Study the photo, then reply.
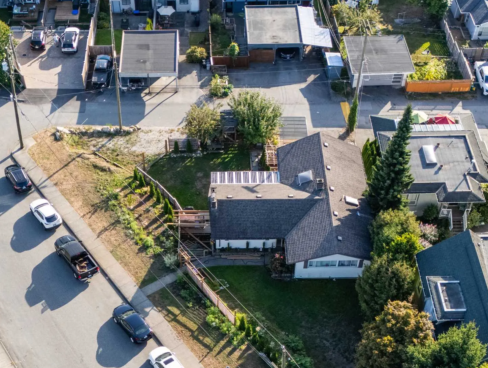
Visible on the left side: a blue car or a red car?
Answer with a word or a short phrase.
blue car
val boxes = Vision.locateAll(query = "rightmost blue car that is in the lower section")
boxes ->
[111,298,155,347]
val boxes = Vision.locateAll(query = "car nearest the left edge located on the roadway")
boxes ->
[1,161,32,196]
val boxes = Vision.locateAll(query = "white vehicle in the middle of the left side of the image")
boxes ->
[27,195,62,234]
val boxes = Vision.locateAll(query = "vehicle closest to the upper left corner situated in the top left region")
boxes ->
[30,26,48,50]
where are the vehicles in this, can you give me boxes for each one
[111,298,155,347]
[27,195,62,234]
[90,56,111,88]
[54,233,99,285]
[30,26,48,50]
[1,161,32,196]
[62,29,80,54]
[474,61,488,96]
[279,47,296,61]
[147,342,183,368]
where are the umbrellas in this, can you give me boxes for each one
[434,104,462,128]
[157,6,175,18]
[413,105,432,127]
